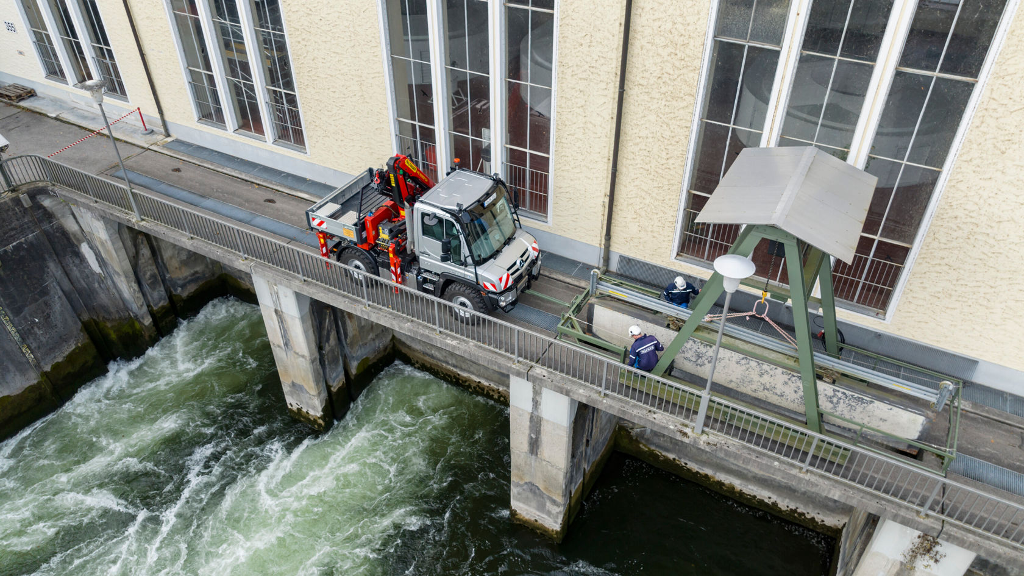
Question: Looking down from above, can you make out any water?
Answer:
Yes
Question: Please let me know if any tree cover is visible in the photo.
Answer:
No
